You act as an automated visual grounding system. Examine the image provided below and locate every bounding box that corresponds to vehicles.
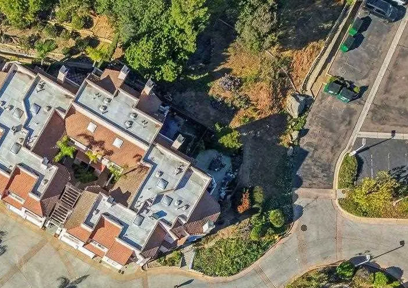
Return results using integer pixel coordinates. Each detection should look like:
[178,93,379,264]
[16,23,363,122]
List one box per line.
[388,0,408,13]
[364,0,401,24]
